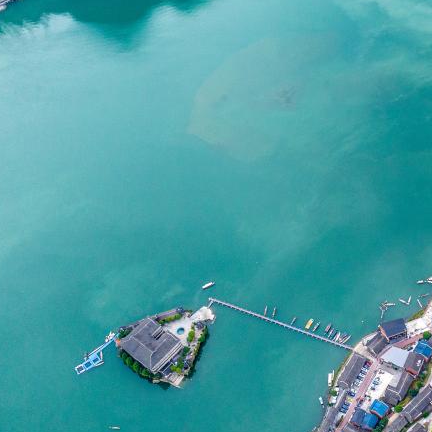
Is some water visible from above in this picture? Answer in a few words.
Yes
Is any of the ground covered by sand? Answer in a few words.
No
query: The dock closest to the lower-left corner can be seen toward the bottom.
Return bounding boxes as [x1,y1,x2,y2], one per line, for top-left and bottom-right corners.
[74,334,117,374]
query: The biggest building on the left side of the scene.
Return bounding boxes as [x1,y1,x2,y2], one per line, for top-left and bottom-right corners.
[121,318,185,375]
